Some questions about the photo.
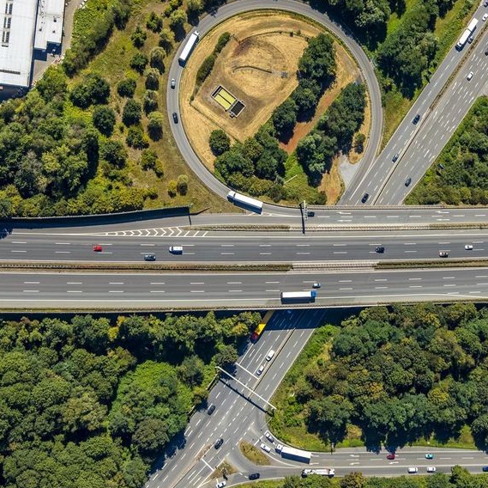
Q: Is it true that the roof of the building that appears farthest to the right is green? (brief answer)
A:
No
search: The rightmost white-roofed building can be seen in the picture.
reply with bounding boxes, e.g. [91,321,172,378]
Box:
[33,0,64,51]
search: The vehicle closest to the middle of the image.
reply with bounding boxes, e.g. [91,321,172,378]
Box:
[225,191,261,213]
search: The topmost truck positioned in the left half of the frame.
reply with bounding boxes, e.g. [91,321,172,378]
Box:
[177,31,199,65]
